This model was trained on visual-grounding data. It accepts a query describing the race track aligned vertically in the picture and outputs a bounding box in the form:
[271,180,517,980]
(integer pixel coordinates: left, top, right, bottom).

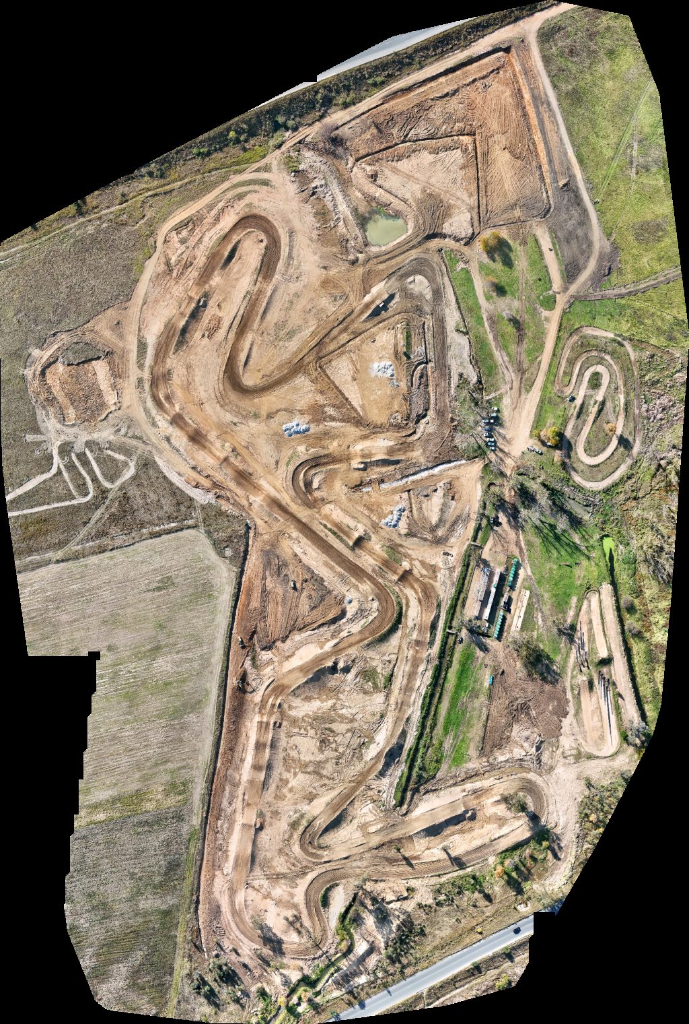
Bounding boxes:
[148,211,553,962]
